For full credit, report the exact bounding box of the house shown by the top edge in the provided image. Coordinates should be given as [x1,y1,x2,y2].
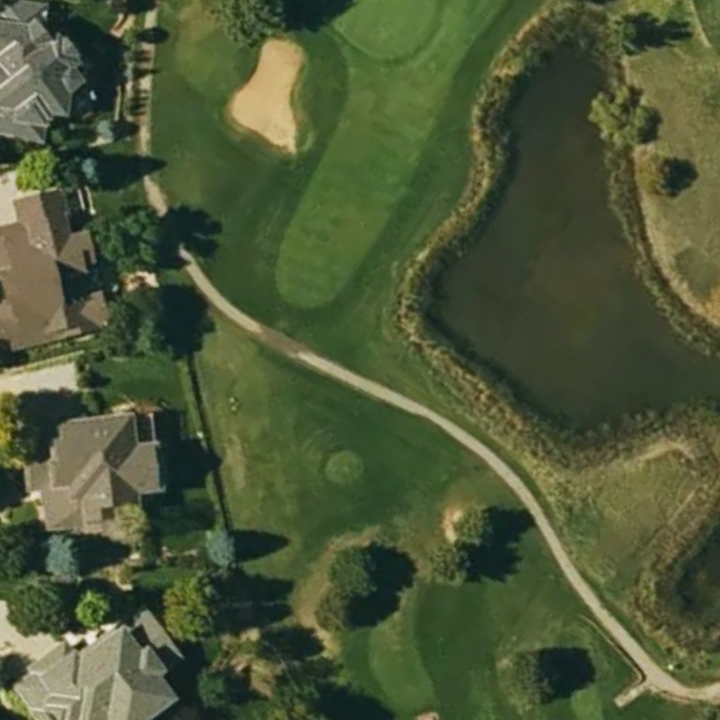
[0,0,91,151]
